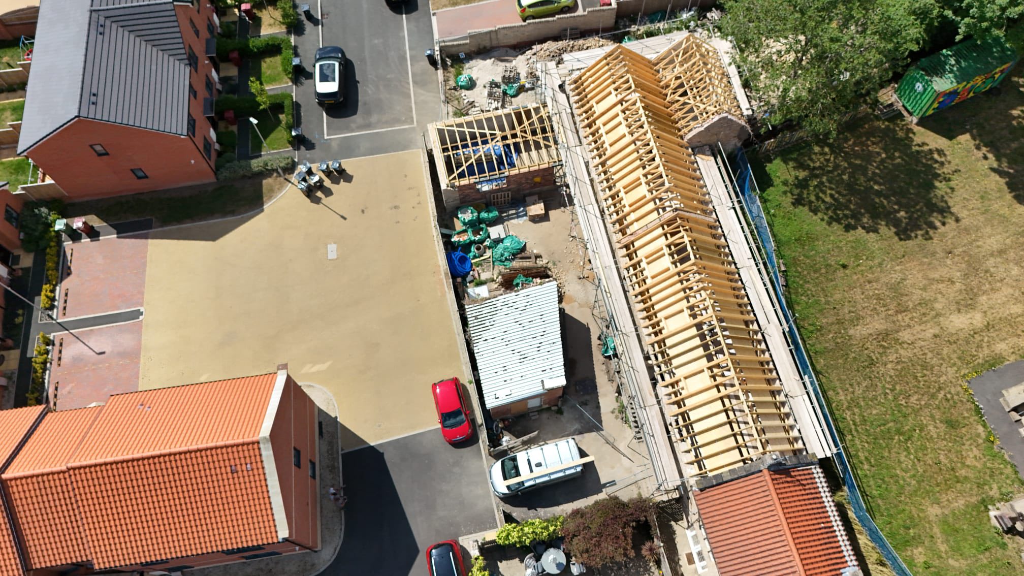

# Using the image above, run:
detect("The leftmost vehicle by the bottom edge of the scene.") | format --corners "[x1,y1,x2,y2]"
[428,537,469,576]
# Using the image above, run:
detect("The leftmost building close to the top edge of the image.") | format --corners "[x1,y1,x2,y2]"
[13,0,224,201]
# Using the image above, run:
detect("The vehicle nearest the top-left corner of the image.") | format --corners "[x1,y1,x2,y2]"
[313,51,348,104]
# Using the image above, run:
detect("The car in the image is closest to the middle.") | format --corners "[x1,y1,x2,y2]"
[429,374,474,449]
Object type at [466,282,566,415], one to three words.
shed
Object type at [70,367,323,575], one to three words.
house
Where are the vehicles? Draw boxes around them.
[313,51,348,104]
[518,0,571,17]
[490,446,591,504]
[429,374,474,449]
[428,537,469,576]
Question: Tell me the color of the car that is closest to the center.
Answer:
red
